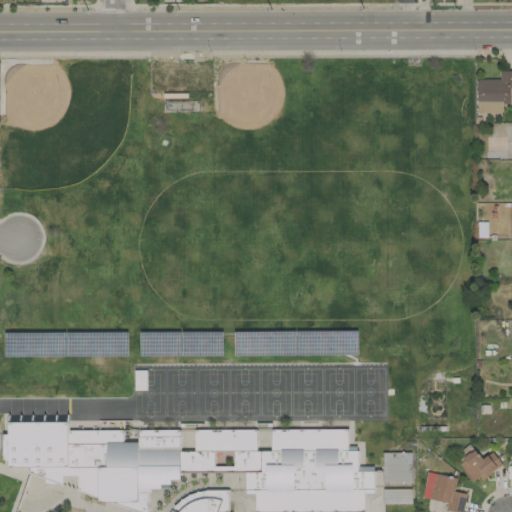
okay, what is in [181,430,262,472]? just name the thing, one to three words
building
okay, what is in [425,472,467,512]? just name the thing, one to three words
house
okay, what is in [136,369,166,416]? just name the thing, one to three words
basketball court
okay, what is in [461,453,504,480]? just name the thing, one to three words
house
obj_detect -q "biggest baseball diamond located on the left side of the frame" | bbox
[2,59,132,191]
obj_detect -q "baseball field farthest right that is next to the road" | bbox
[216,60,285,130]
